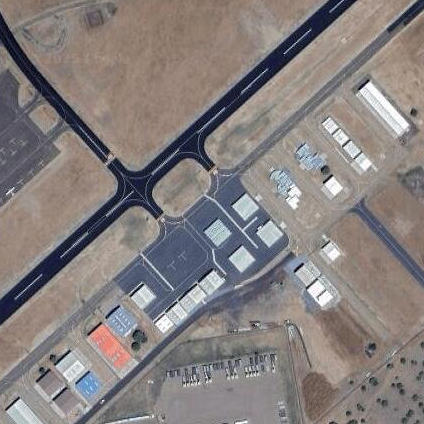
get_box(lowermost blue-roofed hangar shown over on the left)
[76,371,102,398]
